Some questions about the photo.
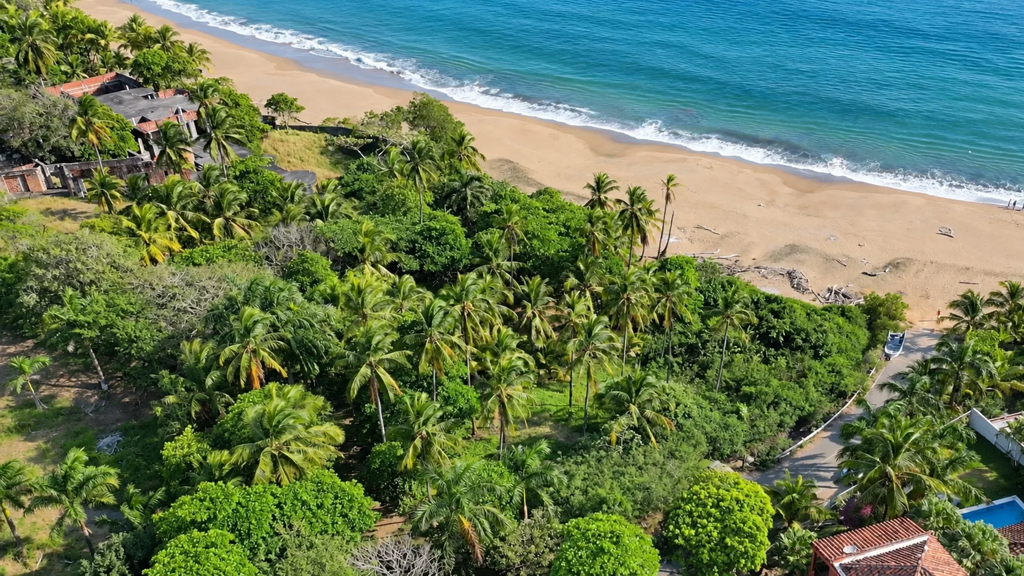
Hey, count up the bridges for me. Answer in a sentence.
No bridges are visible.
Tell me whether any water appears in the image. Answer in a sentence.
Yes, there's water in this view.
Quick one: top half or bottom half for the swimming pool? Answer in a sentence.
Seen from above, the swimming pool lies in the bottom half of the view.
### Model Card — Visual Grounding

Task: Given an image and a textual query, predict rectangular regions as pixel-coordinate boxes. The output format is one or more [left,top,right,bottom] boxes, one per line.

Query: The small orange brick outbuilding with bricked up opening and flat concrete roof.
[0,158,59,194]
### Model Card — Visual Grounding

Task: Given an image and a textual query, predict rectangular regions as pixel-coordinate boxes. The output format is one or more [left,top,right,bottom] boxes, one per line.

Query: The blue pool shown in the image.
[963,493,1024,536]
